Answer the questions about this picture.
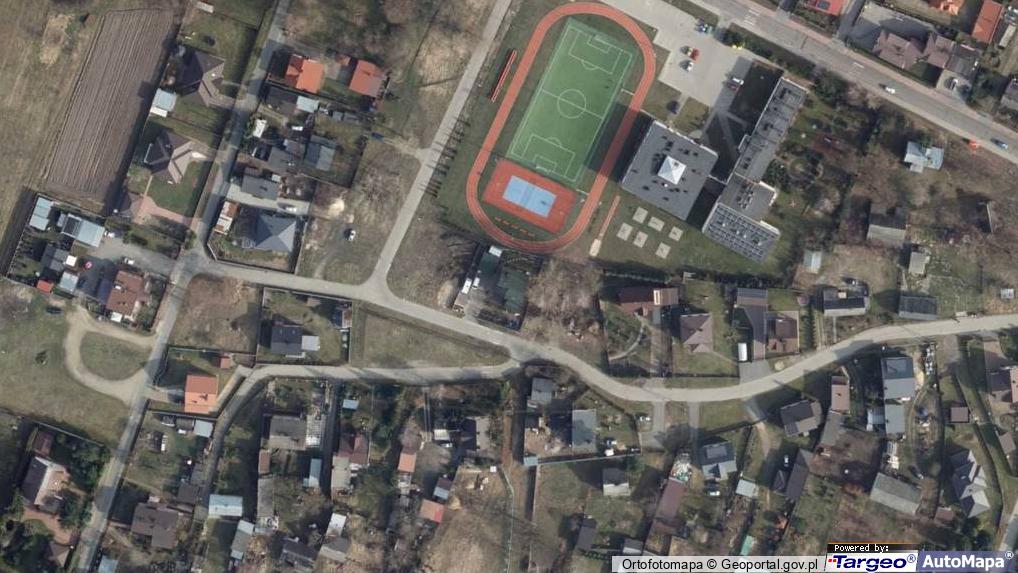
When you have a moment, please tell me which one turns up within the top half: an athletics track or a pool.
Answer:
athletics track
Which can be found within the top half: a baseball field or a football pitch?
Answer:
football pitch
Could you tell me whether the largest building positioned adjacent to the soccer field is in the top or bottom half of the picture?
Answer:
top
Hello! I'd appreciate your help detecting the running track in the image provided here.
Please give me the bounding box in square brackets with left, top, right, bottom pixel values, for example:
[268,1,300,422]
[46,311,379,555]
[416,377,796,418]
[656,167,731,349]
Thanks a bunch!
[466,2,655,253]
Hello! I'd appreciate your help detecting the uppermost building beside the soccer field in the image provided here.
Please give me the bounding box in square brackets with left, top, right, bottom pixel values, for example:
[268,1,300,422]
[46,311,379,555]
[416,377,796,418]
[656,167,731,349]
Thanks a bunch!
[622,77,811,264]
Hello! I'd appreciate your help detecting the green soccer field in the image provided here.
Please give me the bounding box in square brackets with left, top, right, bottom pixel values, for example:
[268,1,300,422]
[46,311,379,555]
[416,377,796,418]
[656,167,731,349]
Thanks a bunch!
[506,19,640,190]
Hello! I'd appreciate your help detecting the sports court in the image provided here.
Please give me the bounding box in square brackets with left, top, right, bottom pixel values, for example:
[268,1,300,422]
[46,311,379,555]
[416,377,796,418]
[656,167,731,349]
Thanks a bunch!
[483,159,577,234]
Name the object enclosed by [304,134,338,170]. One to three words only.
house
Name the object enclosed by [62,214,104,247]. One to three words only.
barn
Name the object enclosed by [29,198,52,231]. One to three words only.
shed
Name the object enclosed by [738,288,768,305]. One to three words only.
building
